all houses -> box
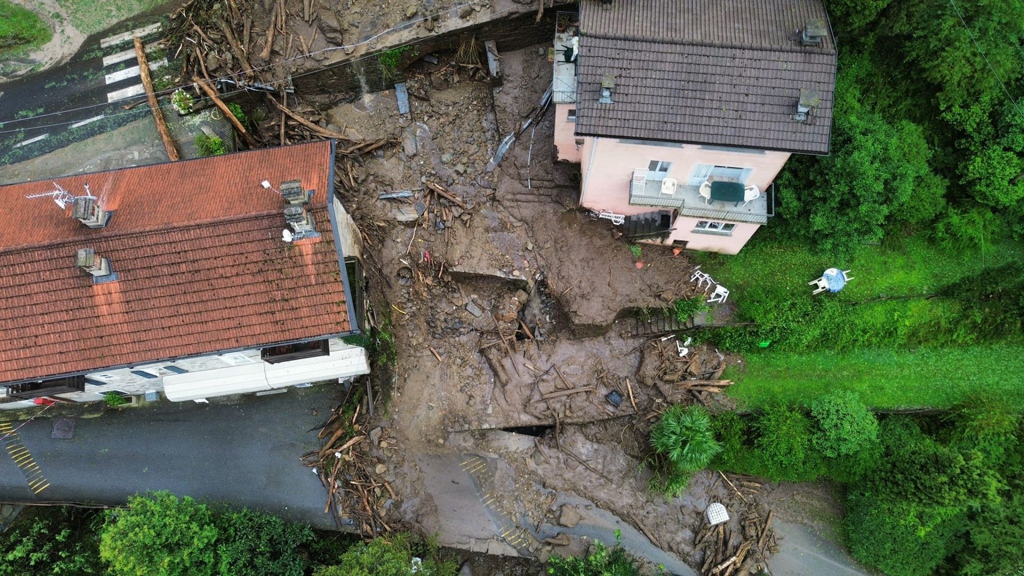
[0,136,380,413]
[549,0,846,249]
